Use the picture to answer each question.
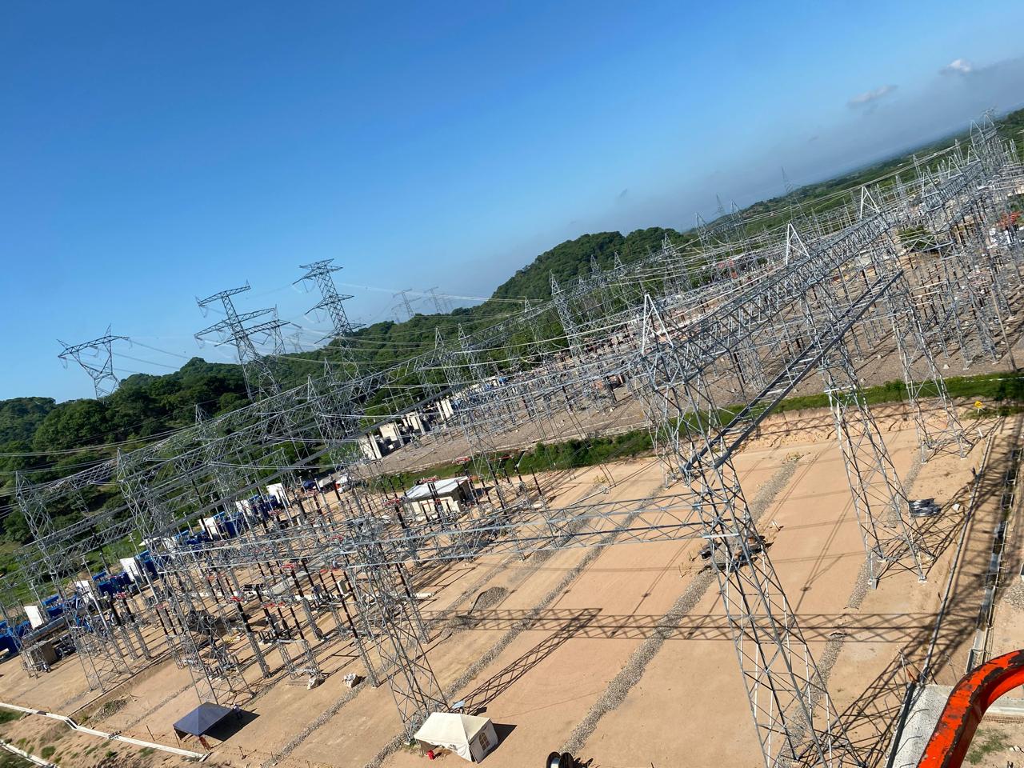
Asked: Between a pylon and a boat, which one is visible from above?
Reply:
pylon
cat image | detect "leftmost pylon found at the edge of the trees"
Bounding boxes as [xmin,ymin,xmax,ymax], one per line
[55,317,135,404]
